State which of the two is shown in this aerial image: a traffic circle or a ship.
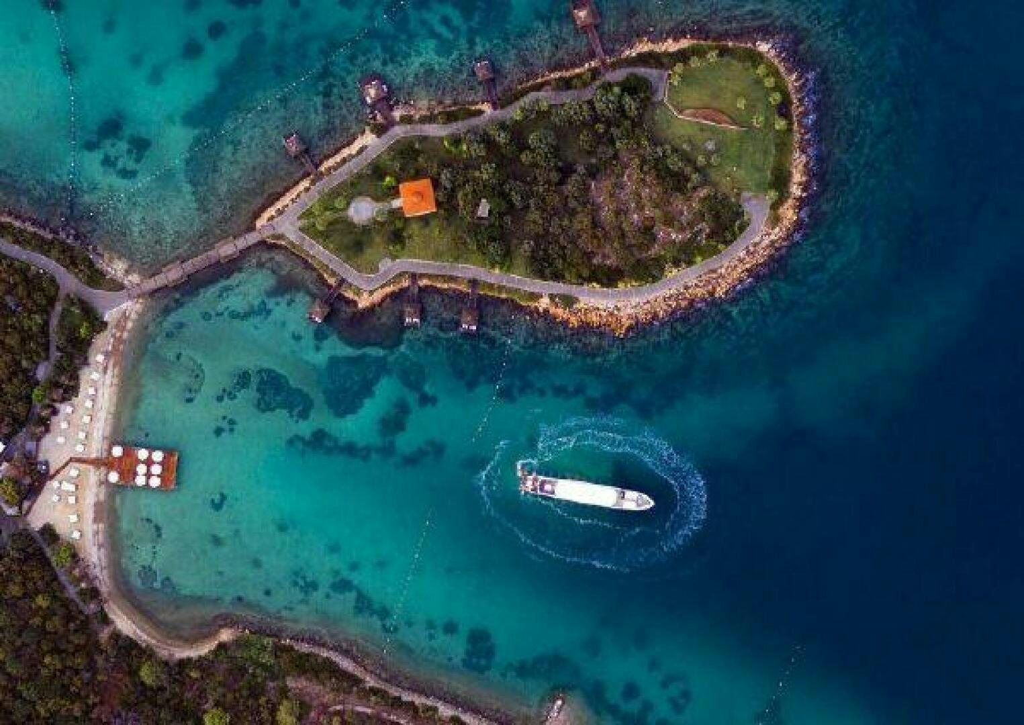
ship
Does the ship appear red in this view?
No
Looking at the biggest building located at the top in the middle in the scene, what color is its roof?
orange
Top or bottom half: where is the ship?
bottom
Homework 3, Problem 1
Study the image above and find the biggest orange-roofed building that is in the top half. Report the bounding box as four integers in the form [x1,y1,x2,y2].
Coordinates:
[397,178,437,218]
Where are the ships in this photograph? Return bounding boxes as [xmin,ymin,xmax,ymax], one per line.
[517,453,655,511]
